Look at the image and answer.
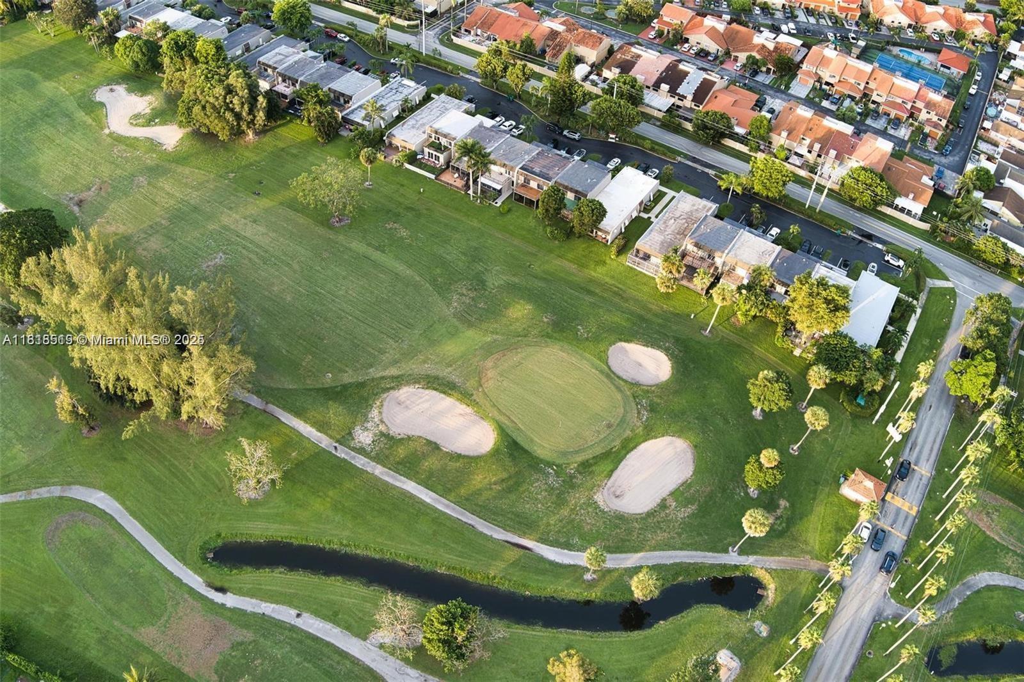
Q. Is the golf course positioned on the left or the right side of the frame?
left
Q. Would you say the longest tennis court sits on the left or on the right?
right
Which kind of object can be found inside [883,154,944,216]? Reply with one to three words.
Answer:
house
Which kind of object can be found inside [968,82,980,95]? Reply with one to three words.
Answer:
vehicle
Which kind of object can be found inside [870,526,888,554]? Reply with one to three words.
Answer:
car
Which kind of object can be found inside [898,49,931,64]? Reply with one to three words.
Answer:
swimming pool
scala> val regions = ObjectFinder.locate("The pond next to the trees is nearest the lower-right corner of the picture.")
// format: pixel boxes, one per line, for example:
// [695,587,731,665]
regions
[926,641,1024,680]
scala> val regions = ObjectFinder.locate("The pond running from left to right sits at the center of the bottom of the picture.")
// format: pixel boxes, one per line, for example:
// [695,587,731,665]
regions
[211,541,764,633]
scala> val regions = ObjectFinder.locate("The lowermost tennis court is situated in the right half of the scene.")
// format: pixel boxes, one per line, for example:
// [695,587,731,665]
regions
[845,43,968,97]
